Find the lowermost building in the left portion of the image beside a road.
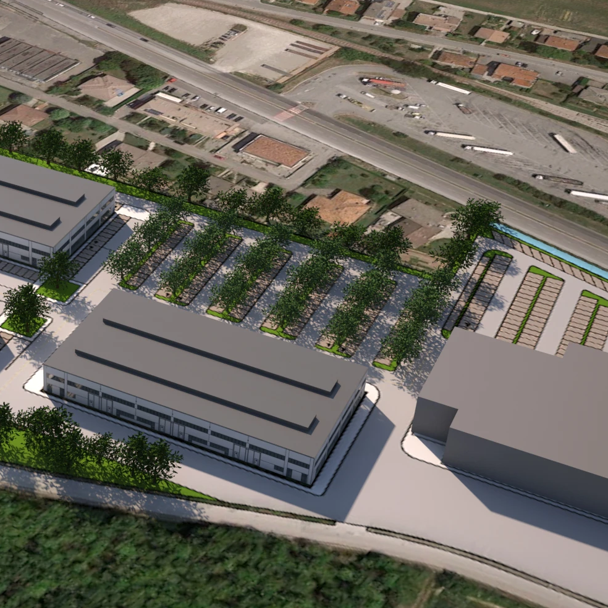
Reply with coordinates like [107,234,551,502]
[42,288,368,485]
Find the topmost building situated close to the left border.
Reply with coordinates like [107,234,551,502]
[0,38,82,87]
